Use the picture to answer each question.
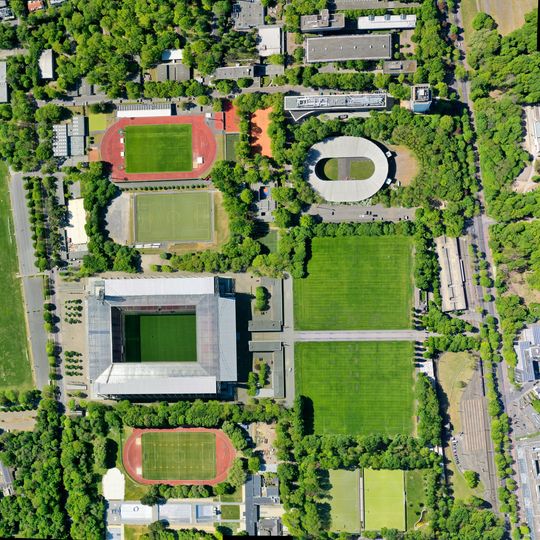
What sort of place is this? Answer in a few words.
sports ground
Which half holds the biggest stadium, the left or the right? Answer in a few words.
left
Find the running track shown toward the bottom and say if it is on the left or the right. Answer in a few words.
left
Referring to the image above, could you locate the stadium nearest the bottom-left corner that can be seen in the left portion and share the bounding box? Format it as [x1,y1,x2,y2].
[88,277,237,403]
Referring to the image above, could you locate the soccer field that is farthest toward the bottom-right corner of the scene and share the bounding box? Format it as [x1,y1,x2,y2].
[364,469,404,531]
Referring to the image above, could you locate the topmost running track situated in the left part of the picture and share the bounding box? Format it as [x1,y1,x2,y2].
[100,117,216,181]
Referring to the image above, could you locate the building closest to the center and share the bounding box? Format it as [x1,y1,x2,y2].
[248,277,282,331]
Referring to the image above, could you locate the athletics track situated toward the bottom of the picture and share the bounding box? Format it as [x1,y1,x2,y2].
[122,428,236,487]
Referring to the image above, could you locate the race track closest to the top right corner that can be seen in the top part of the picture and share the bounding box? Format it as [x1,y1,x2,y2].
[308,136,388,201]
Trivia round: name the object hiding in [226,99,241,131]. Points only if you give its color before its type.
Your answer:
red sports court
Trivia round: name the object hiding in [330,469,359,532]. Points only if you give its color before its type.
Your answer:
green soccer field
